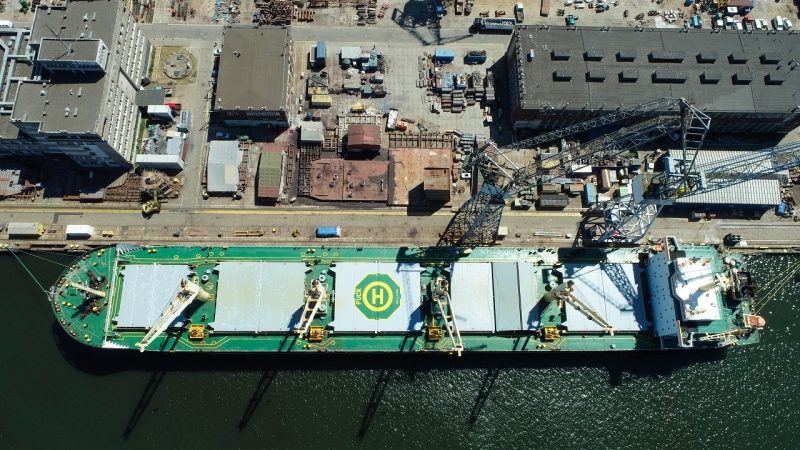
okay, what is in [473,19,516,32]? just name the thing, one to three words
vehicle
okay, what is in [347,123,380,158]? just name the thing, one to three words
shed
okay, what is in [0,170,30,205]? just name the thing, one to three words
shed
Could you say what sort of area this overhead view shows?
port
